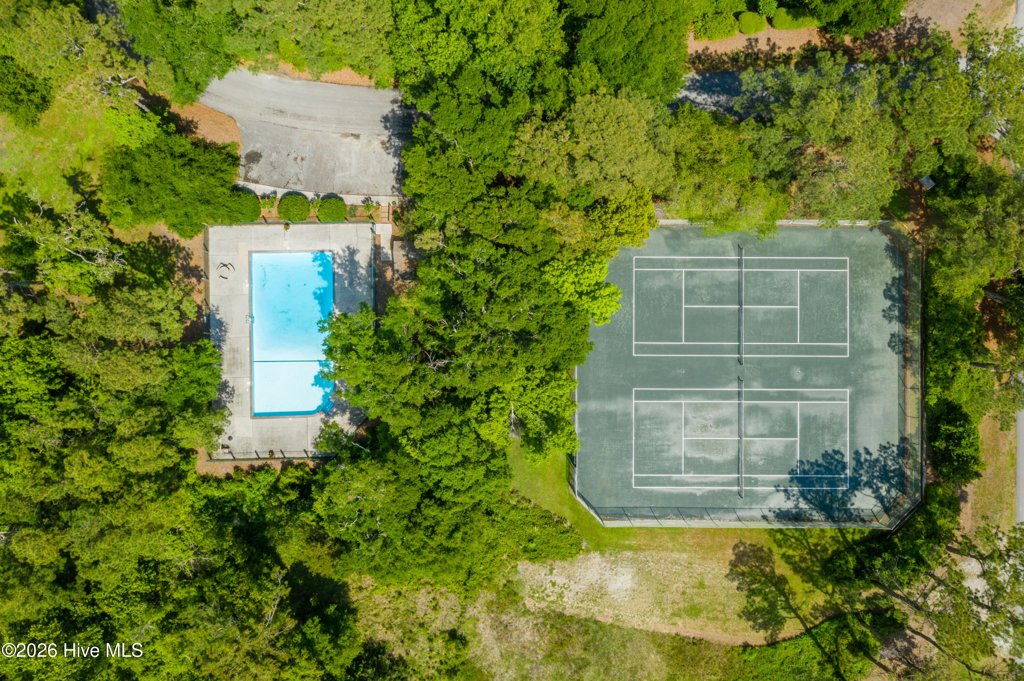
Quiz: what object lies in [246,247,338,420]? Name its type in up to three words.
swimming pool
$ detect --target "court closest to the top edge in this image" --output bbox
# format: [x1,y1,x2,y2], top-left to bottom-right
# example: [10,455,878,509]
[575,225,906,374]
